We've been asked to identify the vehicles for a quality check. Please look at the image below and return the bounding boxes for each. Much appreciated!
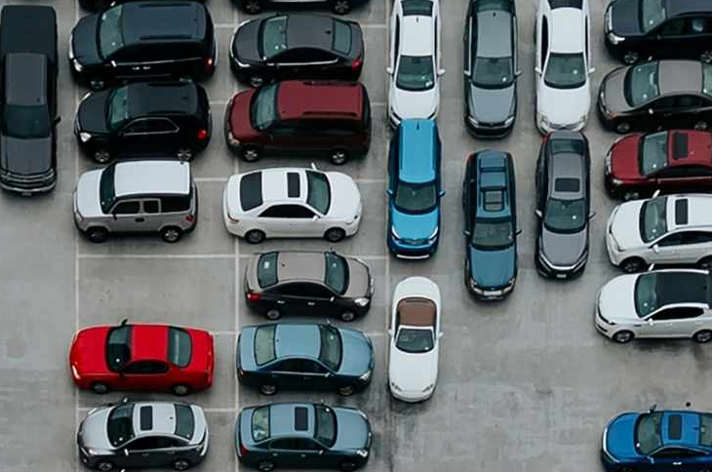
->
[595,49,712,133]
[602,0,712,61]
[73,75,213,162]
[243,240,377,321]
[531,127,598,280]
[600,400,712,472]
[383,0,448,121]
[72,157,200,243]
[222,73,374,163]
[601,118,712,200]
[384,271,448,406]
[458,145,525,303]
[229,3,367,86]
[592,261,712,342]
[67,0,219,88]
[222,160,365,242]
[531,0,598,130]
[459,0,525,139]
[69,313,217,394]
[384,107,449,261]
[0,7,63,195]
[77,392,210,471]
[603,187,712,272]
[234,315,377,395]
[234,392,376,471]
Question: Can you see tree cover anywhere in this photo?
No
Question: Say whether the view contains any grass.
No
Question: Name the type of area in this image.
parking lot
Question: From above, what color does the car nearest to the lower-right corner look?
blue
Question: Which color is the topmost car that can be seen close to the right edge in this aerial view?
black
